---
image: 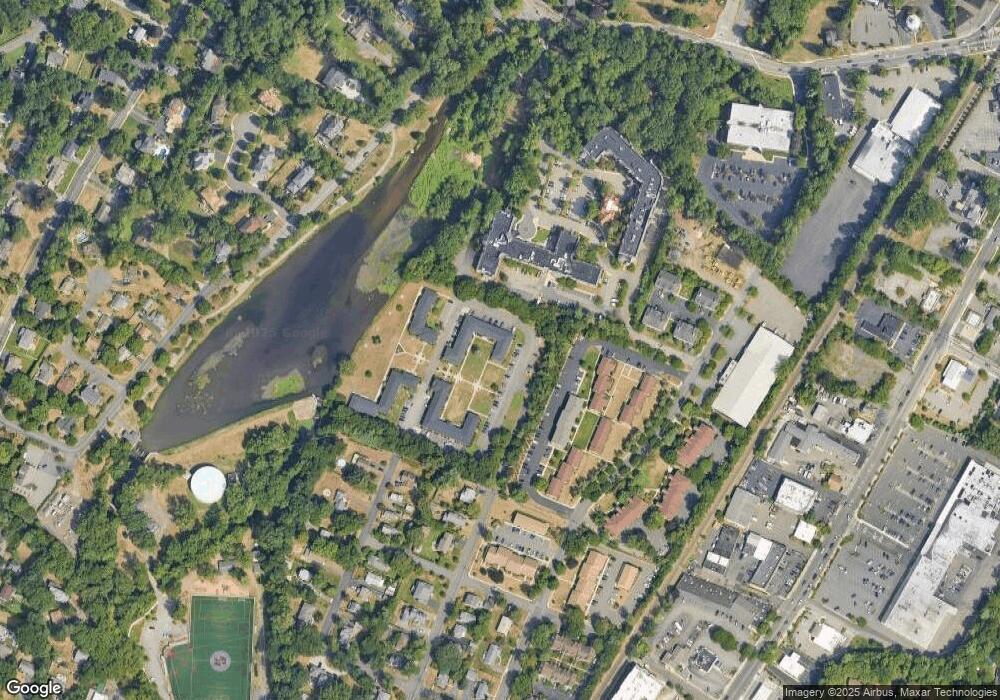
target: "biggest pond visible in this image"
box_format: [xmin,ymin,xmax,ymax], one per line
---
[143,98,457,455]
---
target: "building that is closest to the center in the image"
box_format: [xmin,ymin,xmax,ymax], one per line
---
[443,314,513,365]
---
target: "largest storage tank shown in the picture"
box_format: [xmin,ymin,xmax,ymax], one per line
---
[187,463,229,506]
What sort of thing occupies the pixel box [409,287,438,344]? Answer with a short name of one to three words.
building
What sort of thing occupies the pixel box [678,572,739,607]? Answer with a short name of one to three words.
building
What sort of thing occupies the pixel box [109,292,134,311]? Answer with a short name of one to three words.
house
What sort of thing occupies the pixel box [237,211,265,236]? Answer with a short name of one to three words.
house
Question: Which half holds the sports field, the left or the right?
left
